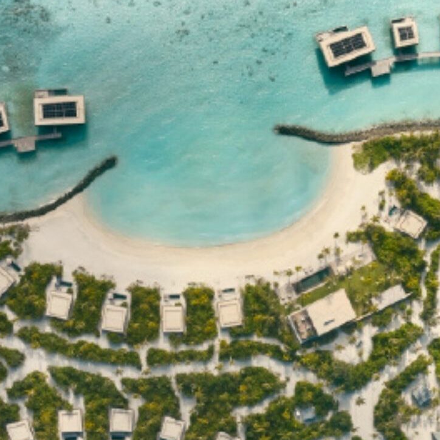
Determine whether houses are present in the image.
Yes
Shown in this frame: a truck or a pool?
pool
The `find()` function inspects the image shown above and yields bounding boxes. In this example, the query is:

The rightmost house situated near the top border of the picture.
[391,16,419,49]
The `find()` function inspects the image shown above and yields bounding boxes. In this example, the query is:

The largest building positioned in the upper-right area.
[318,23,376,68]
